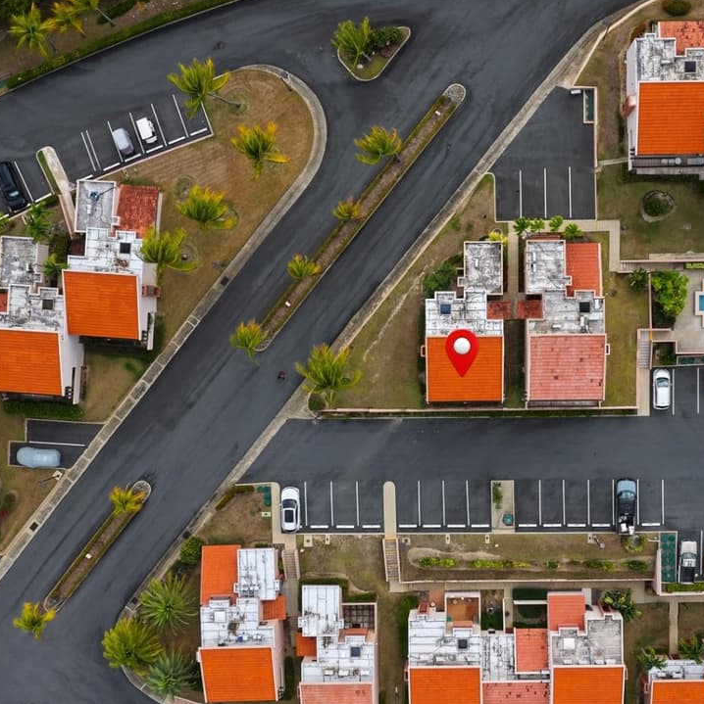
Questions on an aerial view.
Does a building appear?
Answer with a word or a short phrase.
Yes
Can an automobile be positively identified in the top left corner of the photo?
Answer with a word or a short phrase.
Yes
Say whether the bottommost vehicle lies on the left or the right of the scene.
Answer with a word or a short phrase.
right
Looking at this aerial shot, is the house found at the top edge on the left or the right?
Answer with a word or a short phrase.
right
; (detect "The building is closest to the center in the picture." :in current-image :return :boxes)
[420,242,512,409]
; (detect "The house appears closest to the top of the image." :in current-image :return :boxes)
[627,22,704,175]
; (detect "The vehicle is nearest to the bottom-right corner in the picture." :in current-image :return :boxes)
[679,537,699,583]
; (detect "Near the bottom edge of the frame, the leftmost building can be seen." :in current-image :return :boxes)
[196,544,287,704]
